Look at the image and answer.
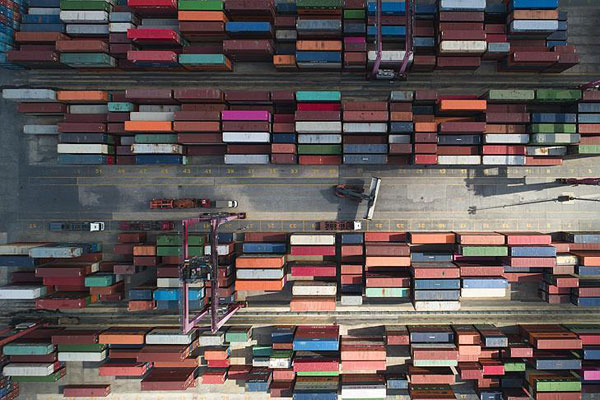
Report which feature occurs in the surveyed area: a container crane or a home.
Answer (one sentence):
It is a container crane that can be seen here.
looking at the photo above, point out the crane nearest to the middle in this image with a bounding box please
[179,211,246,334]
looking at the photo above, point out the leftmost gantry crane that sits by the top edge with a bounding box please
[363,0,416,77]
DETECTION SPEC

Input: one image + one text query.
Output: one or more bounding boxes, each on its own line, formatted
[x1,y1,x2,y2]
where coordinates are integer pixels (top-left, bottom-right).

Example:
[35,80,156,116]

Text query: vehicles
[315,221,362,231]
[215,200,237,208]
[47,221,103,232]
[148,199,210,209]
[332,175,381,218]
